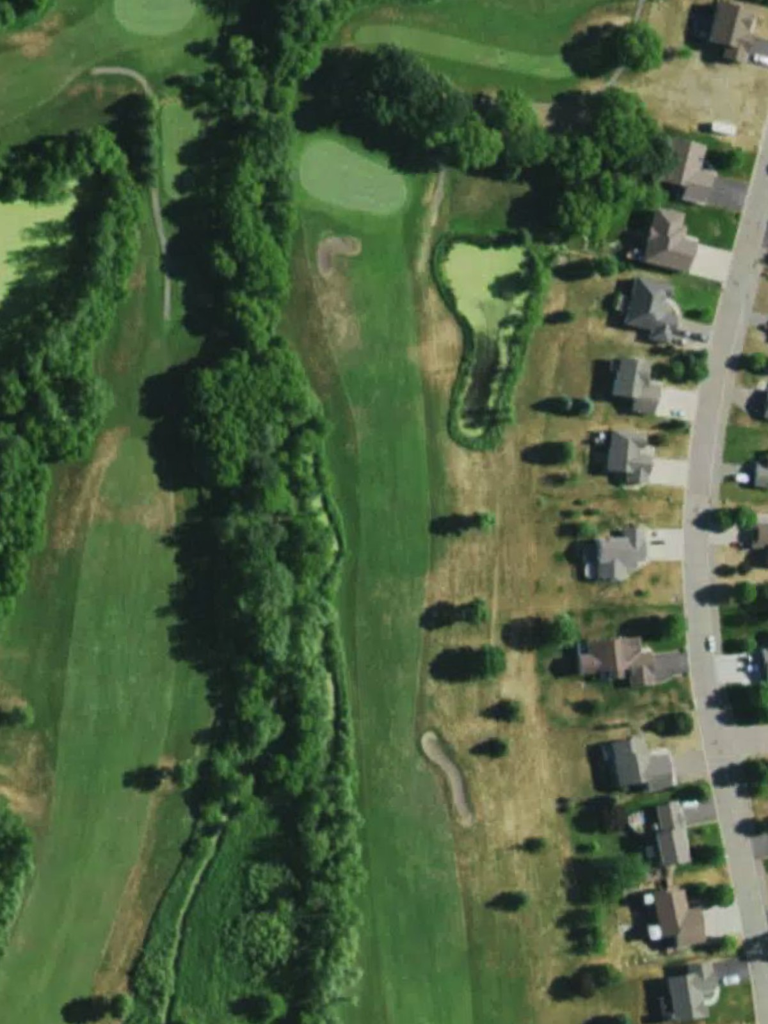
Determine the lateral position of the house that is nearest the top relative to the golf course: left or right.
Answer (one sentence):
It is on the right side of the golf course that the house that is nearest the top is positioned.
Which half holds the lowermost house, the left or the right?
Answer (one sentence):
The lowermost house is on the right side of the image.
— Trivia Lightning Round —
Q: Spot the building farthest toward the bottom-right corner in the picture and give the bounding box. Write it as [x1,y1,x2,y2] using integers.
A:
[657,962,720,1024]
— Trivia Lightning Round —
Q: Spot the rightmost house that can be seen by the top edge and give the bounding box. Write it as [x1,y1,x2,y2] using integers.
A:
[711,0,766,61]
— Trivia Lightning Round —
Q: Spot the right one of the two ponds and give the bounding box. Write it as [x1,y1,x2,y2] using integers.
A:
[444,242,536,439]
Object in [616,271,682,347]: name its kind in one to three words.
house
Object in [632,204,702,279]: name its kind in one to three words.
house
